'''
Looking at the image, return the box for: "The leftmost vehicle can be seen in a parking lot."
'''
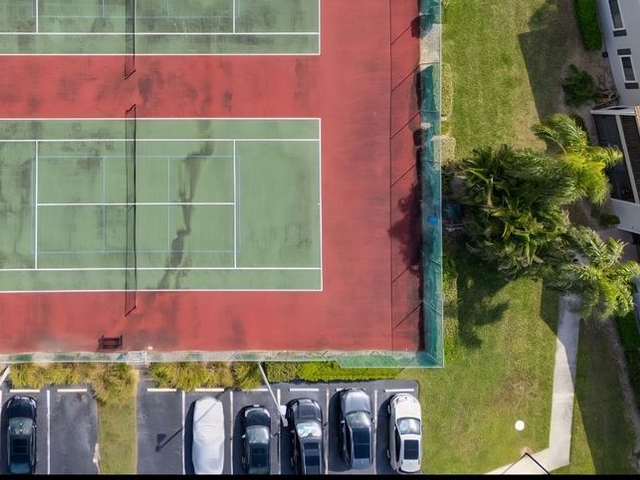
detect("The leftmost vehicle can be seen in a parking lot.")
[1,396,37,478]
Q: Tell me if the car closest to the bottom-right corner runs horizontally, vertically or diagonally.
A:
vertically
